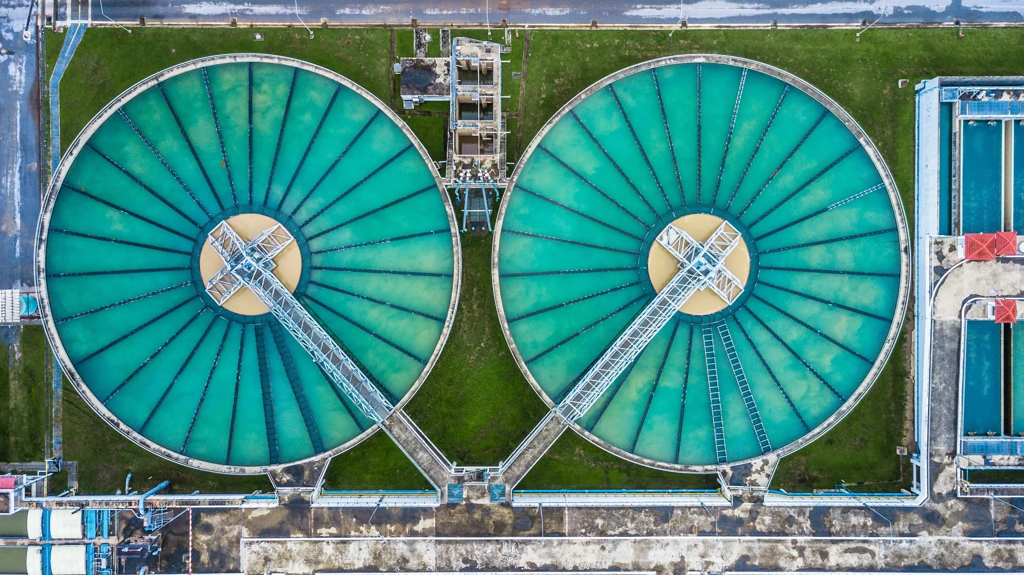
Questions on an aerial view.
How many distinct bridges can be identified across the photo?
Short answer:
2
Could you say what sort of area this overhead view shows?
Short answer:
industrial area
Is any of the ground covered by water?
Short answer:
Yes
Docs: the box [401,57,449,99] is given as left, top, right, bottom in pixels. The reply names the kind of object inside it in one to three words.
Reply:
house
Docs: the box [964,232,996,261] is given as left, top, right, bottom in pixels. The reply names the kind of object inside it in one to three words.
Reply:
shed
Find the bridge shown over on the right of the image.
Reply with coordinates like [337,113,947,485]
[554,219,745,423]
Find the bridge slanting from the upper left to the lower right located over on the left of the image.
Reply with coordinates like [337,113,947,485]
[205,219,396,423]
